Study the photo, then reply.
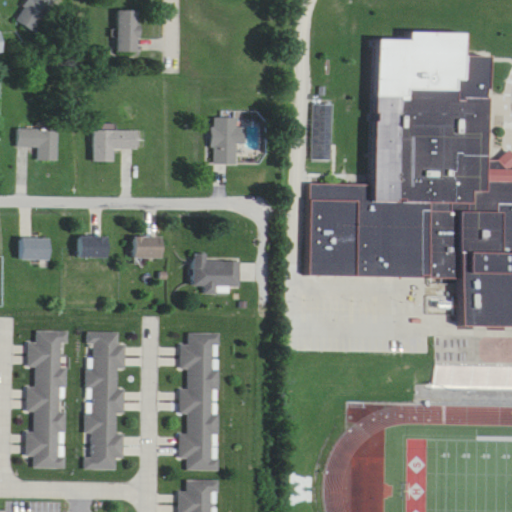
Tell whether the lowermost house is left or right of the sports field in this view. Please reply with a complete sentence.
Relative to the sports field, the lowermost house lies to the left.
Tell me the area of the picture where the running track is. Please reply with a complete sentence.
The running track sits in the bottom right section of the image.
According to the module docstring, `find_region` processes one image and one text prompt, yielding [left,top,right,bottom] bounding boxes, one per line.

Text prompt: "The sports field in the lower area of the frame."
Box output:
[384,425,512,512]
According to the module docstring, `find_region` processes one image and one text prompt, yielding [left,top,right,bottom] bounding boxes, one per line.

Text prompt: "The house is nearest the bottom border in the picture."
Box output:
[176,480,219,512]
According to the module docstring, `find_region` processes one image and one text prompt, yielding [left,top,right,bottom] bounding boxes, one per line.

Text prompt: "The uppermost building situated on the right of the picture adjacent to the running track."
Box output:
[306,32,512,330]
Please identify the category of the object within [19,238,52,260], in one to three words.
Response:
house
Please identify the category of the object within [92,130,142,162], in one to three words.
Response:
house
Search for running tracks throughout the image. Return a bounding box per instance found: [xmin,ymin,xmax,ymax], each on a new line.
[324,402,512,512]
